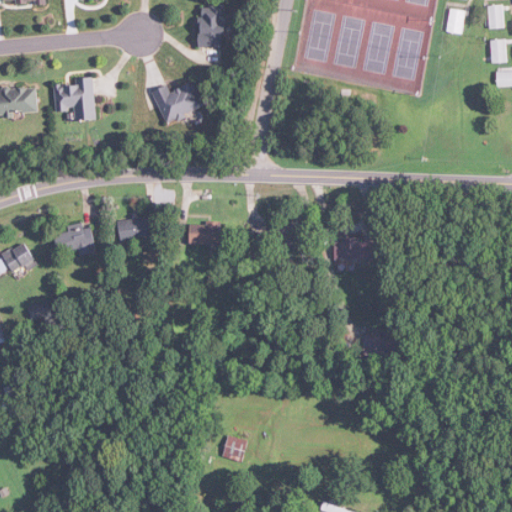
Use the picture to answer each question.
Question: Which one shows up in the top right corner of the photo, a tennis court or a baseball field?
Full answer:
What appears in the top right corner of the photo is a tennis court.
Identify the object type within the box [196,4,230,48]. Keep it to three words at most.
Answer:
house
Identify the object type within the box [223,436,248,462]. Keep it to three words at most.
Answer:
barn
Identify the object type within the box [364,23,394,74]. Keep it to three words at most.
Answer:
tennis court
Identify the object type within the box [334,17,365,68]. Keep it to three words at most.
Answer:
tennis court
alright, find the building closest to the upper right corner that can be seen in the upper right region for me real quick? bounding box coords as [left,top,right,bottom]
[488,4,510,30]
